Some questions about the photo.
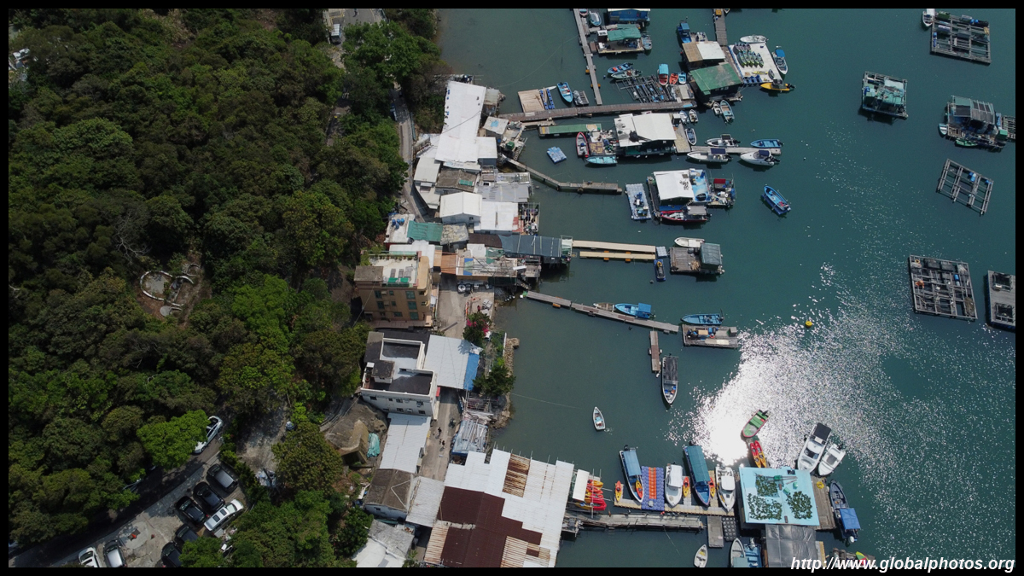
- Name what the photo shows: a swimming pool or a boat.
boat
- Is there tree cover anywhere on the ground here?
Yes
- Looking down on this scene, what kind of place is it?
residential area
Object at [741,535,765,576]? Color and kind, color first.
blue boat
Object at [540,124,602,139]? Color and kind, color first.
green ship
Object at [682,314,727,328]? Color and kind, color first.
blue boat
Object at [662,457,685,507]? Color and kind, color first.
white boat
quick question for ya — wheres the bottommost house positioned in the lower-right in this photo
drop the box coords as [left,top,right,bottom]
[762,524,824,576]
